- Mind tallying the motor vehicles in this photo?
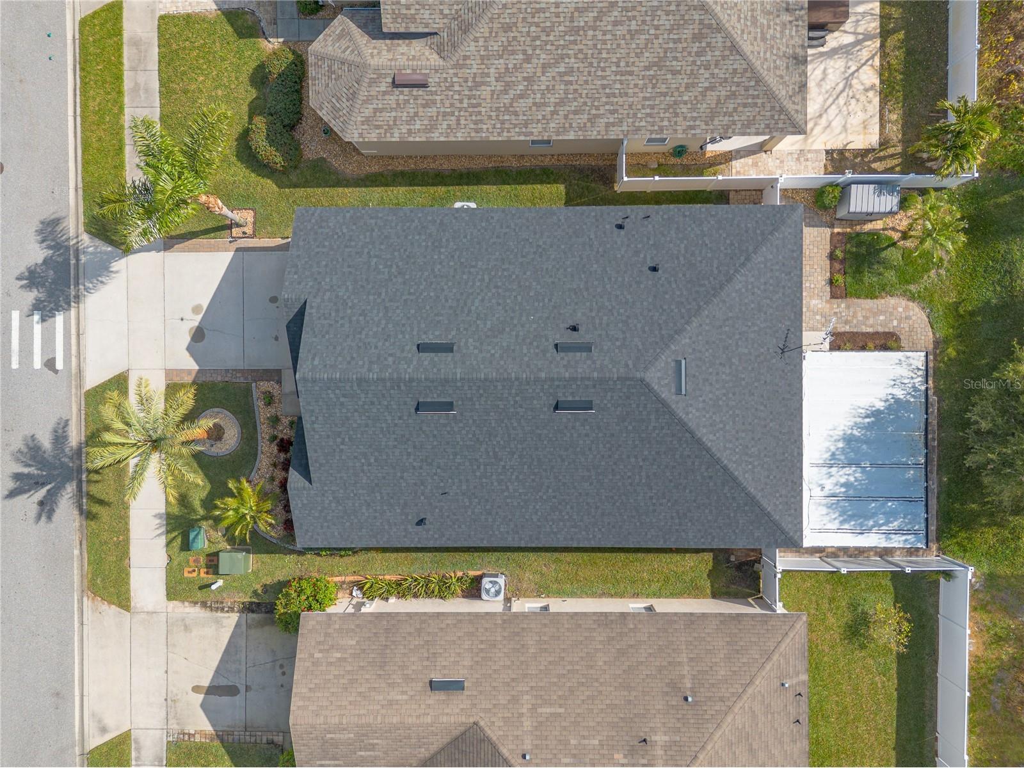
none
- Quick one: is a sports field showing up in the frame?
No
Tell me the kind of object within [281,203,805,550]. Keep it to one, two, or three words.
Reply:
house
